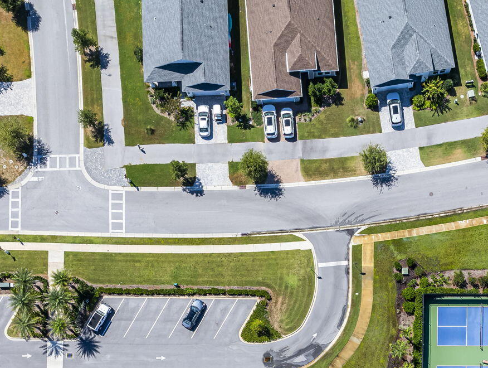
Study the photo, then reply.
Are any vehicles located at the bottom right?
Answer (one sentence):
No, no vehicle can be made out at the bottom right.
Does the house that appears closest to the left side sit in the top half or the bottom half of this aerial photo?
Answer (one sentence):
It is in the top half that the house that appears closest to the left side appears.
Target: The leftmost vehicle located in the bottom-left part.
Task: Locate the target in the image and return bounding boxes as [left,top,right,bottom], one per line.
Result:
[87,302,114,335]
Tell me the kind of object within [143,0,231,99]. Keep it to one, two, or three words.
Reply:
house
